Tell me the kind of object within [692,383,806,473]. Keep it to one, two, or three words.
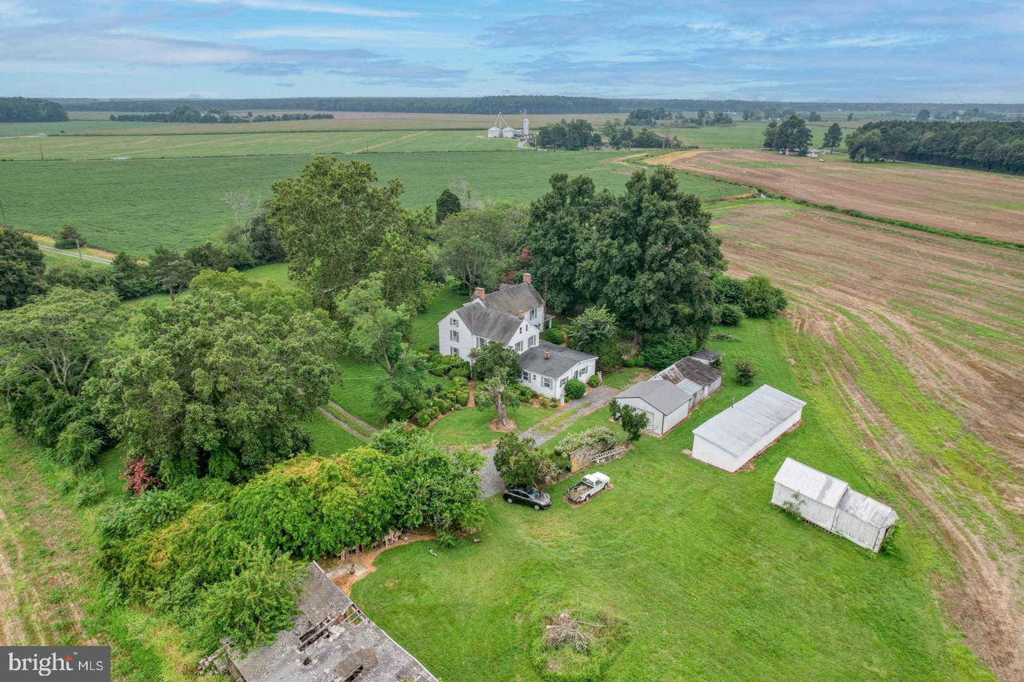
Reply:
shed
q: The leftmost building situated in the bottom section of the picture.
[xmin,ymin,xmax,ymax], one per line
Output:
[213,558,442,682]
